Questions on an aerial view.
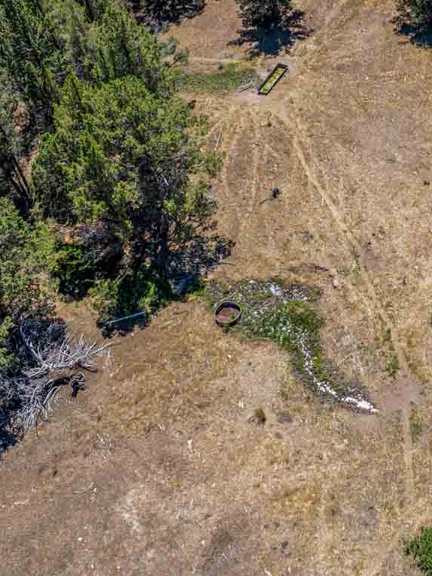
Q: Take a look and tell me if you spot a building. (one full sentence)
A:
No, no building is visible in the scene.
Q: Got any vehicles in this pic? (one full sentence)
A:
No, this view has no vehicle in it.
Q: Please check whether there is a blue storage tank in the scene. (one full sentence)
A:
No, I find no blue storage tank anywhere in the image.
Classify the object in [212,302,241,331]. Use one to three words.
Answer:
storage tank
